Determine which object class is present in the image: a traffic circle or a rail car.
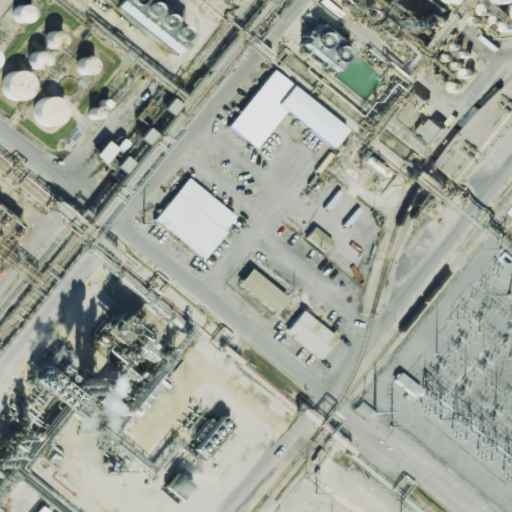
rail car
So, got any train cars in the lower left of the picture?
No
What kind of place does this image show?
industrial area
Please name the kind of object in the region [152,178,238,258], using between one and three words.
building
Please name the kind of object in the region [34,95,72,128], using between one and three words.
storage tank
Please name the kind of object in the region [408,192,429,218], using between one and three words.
rail car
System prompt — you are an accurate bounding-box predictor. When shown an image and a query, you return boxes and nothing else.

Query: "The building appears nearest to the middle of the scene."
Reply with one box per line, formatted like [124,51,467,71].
[238,268,289,314]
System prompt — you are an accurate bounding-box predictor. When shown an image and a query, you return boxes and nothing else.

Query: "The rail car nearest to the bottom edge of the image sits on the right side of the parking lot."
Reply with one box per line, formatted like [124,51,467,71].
[402,300,428,332]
